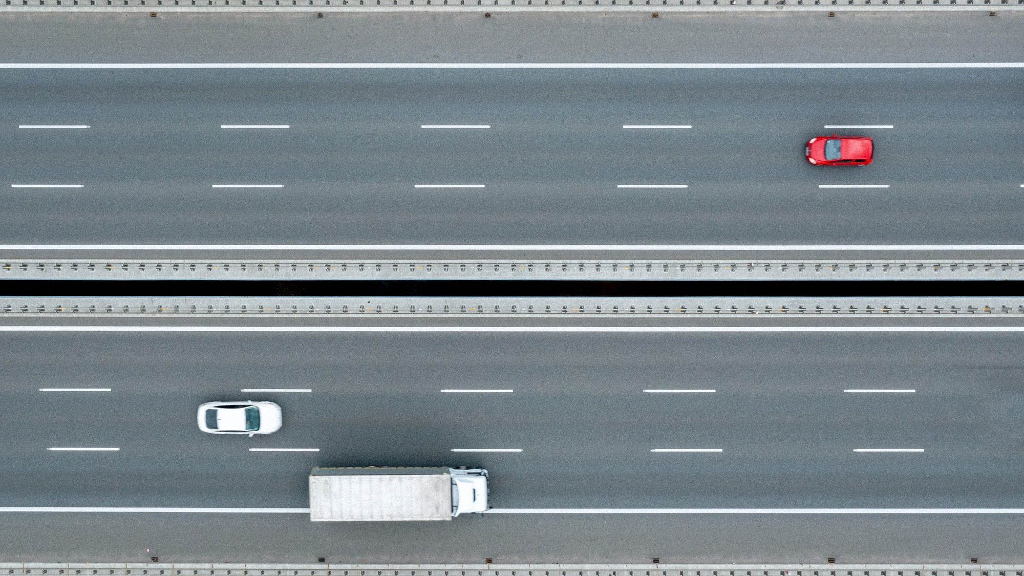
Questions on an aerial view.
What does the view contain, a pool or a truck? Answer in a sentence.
I can see a truck in this picture.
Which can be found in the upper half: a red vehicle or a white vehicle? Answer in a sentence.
It is a red vehicle that can be seen in the upper half.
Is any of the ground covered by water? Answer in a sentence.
No, water can't be seen anywhere here.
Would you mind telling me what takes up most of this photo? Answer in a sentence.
The largest share of the image is taken up by paved ground.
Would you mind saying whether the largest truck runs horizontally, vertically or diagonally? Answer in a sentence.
In this picture, the largest truck lies horizontally.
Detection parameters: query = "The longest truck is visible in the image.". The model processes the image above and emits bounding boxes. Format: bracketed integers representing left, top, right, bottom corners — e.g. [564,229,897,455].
[309,464,490,521]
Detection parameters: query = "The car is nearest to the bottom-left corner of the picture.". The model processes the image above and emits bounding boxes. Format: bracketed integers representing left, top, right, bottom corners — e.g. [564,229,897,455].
[197,400,283,438]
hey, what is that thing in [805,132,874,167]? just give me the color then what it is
red car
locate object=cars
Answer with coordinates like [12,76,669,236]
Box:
[805,132,874,167]
[197,400,283,438]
